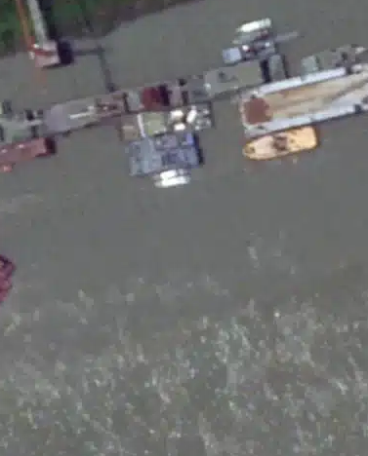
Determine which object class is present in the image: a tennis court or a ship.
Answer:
ship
